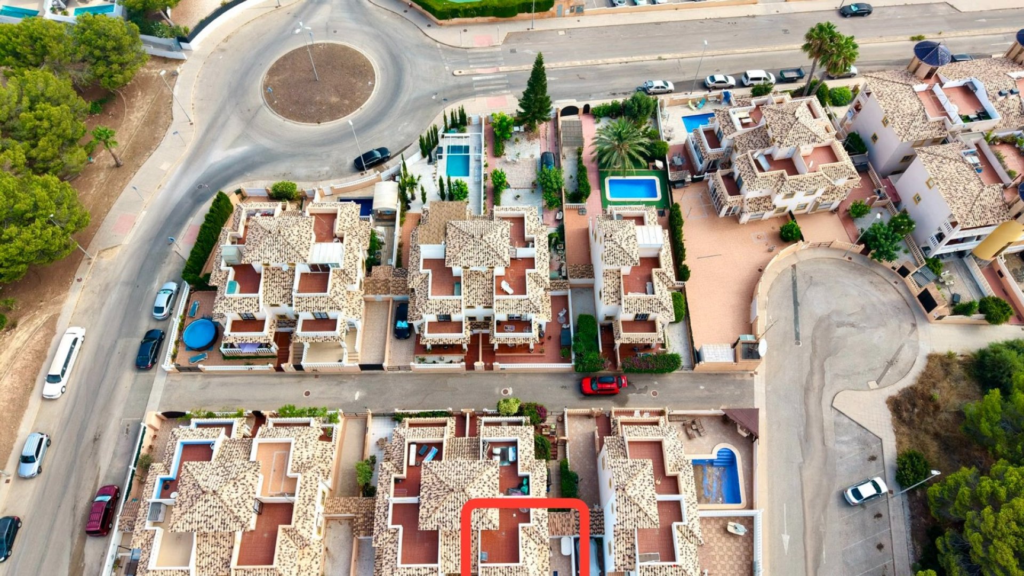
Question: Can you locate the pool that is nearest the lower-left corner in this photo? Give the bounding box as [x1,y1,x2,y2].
[176,315,222,356]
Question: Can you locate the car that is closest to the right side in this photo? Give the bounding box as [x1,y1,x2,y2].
[952,48,982,66]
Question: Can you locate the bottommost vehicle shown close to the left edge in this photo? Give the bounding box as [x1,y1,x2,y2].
[0,516,26,563]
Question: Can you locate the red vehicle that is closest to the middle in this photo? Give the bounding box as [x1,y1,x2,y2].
[578,374,633,400]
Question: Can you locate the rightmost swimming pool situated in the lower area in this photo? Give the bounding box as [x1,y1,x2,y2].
[691,442,747,510]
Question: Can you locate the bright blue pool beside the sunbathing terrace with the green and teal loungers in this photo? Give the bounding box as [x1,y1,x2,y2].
[680,112,711,142]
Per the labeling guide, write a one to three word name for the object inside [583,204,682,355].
house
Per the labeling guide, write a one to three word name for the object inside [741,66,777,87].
car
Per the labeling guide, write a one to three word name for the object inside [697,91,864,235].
house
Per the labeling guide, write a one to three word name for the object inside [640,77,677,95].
car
